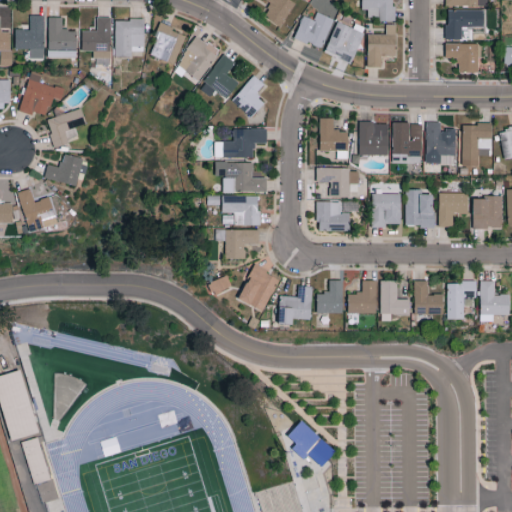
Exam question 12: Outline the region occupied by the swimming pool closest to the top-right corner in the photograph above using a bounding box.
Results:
[360,156,390,174]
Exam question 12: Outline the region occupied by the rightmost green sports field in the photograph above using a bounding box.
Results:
[80,429,234,512]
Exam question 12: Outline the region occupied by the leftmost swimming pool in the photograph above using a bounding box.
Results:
[64,85,90,112]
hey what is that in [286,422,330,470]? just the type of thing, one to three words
building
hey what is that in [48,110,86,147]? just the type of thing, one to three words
house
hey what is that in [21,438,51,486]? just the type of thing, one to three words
building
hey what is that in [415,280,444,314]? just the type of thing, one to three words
house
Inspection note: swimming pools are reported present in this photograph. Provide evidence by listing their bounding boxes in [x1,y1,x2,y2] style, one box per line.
[196,133,214,160]
[360,156,390,174]
[64,85,90,112]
